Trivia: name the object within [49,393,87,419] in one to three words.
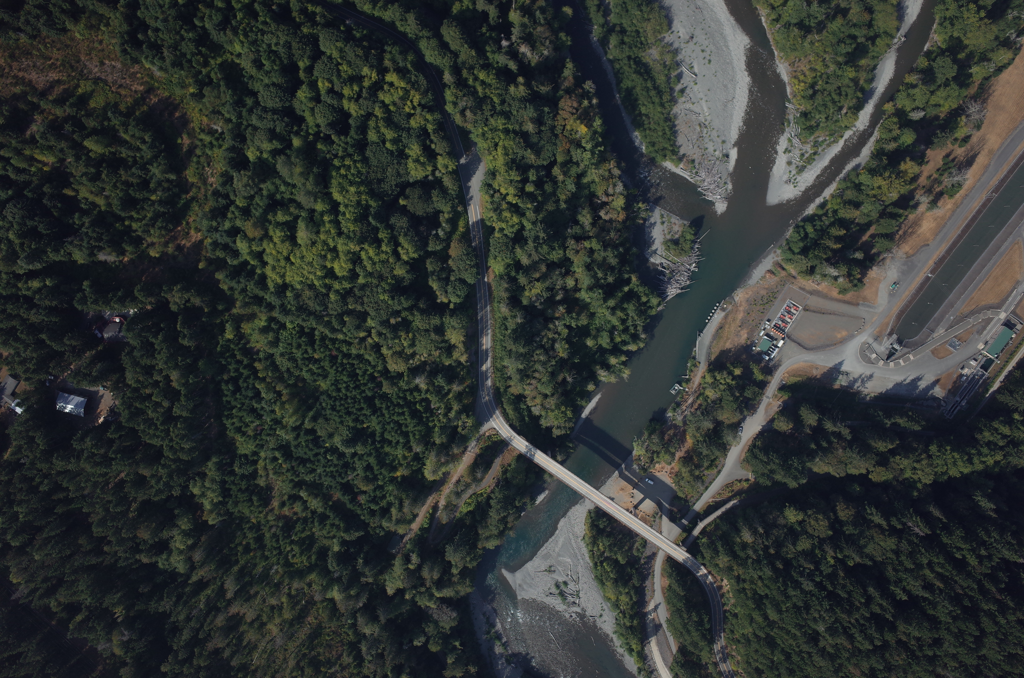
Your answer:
barn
